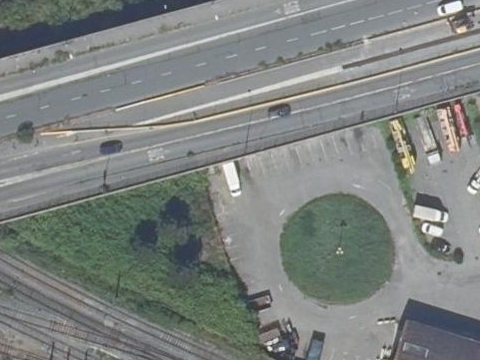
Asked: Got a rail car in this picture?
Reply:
No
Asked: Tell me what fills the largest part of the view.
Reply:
paved ground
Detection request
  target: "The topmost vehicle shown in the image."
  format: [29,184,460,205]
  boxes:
[437,0,464,15]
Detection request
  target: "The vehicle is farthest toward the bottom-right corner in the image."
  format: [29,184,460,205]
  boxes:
[430,239,452,253]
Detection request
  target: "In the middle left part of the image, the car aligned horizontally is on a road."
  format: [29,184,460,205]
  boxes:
[99,142,123,155]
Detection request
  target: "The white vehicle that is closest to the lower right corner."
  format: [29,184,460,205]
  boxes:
[420,223,444,239]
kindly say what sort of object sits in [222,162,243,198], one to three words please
vehicle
